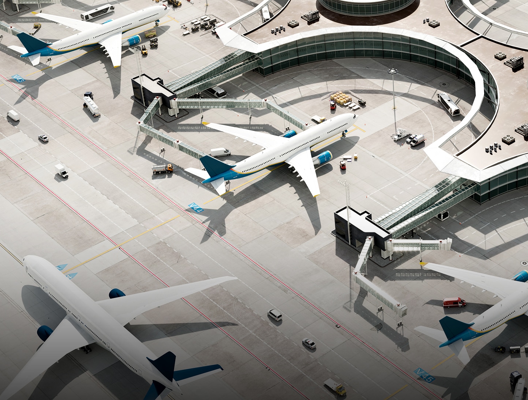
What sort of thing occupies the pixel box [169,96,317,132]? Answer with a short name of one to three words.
jet bridge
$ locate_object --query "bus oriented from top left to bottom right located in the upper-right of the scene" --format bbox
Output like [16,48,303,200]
[436,95,460,119]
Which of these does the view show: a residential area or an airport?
airport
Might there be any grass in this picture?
No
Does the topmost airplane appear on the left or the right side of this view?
left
